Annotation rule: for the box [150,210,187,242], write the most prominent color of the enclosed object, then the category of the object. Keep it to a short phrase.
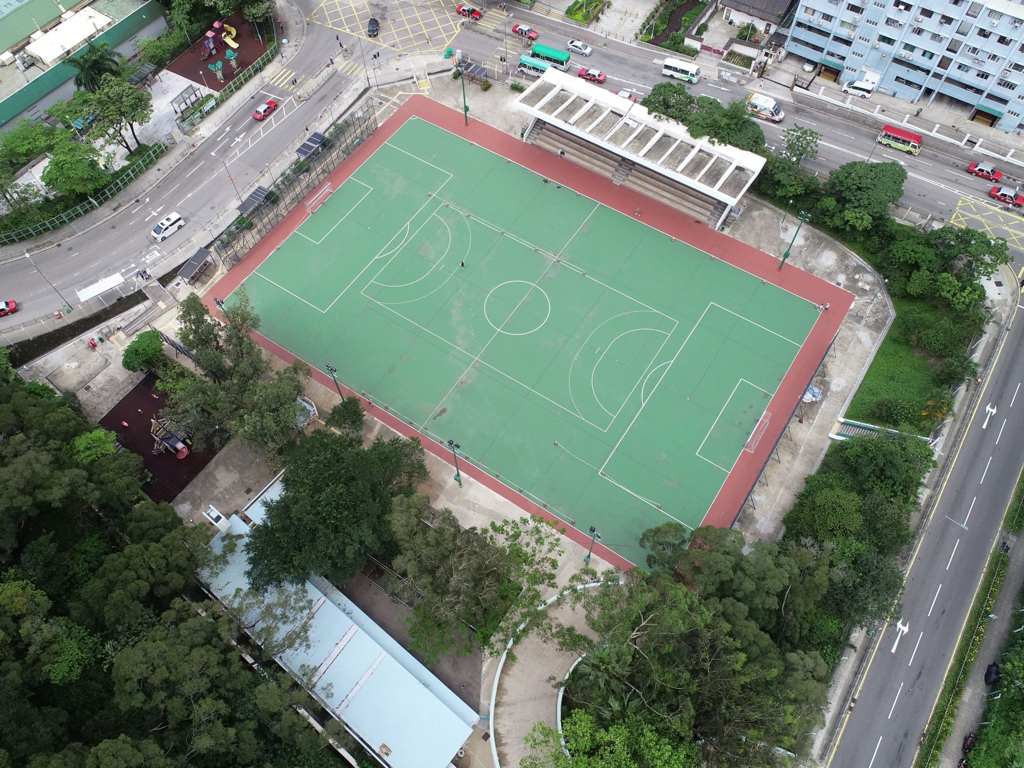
white vehicle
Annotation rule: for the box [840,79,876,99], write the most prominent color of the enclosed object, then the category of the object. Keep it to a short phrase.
white vehicle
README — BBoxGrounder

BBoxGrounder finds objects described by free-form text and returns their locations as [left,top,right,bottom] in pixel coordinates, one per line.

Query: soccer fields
[197,92,856,601]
